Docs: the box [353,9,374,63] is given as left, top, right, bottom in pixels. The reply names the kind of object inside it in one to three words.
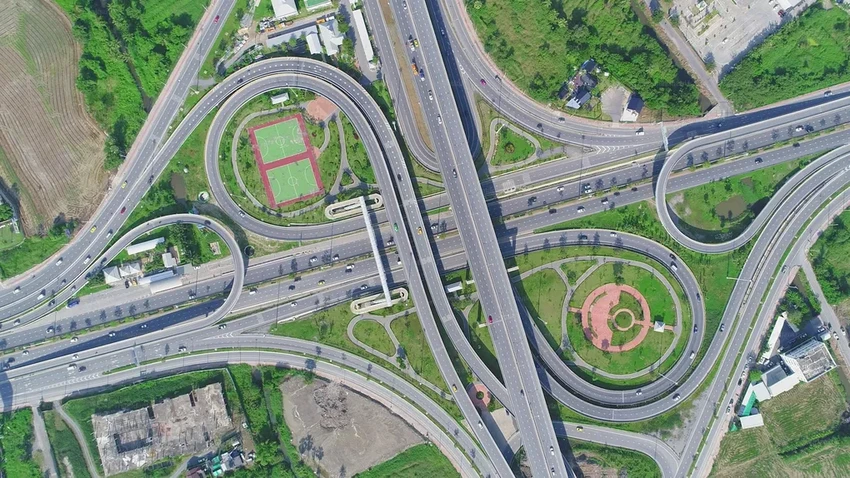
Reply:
shed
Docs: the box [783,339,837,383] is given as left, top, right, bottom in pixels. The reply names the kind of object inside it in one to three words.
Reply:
building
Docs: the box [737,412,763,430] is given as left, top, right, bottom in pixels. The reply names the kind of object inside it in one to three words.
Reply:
building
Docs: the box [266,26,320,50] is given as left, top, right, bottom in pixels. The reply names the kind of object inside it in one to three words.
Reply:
shed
